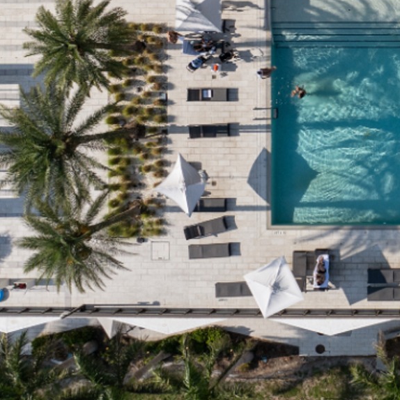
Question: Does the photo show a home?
No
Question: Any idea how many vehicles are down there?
0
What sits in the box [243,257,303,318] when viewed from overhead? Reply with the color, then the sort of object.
white umbrella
